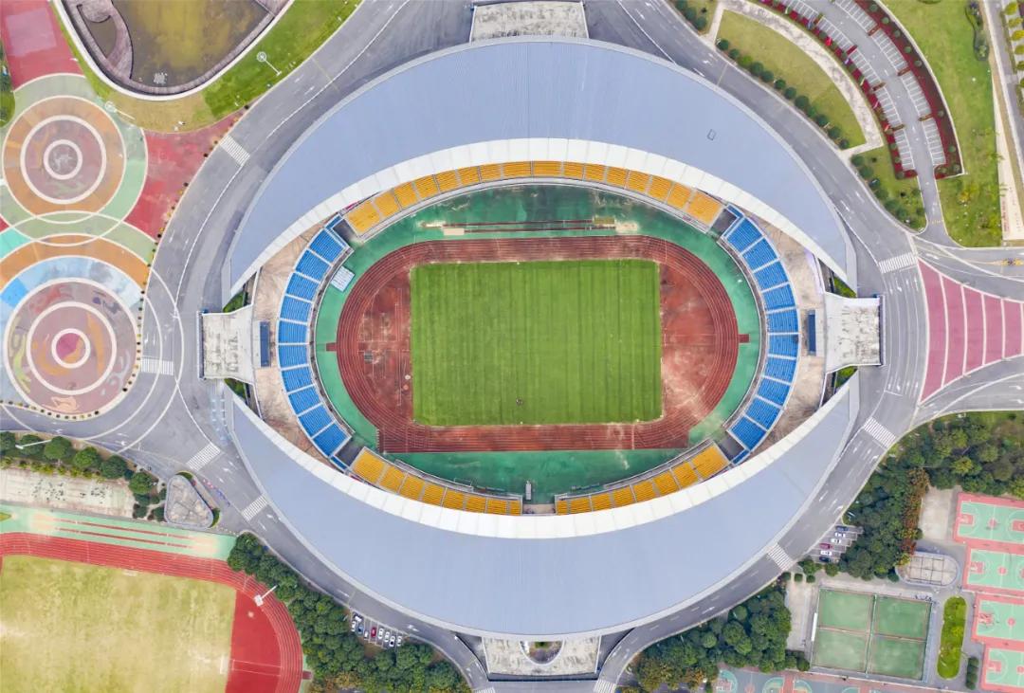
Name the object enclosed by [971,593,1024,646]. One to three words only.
basketball court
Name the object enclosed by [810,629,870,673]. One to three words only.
tennis court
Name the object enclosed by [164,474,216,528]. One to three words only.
building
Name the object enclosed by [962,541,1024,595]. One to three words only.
basketball court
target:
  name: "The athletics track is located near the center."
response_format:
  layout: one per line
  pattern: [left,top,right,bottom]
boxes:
[326,188,748,499]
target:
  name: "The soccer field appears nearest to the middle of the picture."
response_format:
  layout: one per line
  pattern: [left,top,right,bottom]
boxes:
[411,258,663,425]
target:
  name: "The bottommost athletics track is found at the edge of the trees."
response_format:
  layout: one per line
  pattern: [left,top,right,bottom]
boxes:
[0,503,305,693]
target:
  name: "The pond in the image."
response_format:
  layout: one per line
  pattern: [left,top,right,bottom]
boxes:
[52,0,293,100]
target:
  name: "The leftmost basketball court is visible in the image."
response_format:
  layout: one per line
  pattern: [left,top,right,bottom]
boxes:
[712,664,787,693]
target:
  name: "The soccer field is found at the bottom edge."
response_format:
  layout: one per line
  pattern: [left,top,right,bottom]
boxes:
[0,554,235,693]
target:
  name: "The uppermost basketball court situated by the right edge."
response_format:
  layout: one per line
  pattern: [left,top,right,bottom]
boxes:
[952,493,1024,547]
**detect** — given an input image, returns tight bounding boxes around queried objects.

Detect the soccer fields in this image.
[411,258,663,425]
[0,554,235,693]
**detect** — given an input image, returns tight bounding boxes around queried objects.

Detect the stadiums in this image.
[197,0,885,682]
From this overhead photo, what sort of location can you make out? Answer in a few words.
sports ground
